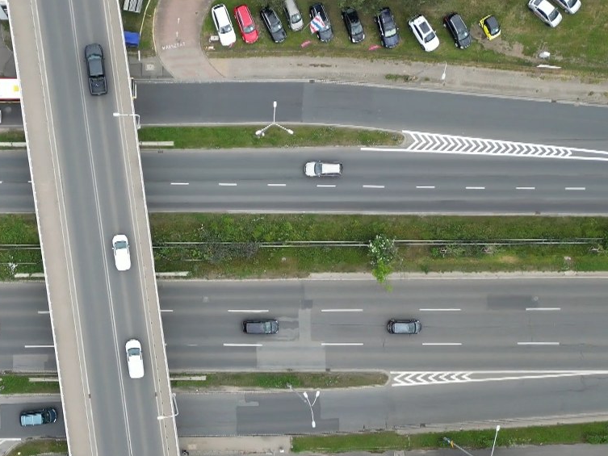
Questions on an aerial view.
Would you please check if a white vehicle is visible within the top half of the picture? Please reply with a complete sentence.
Yes, you'll find a white vehicle within the top half of the picture.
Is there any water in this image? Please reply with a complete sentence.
No, water can't be seen anywhere here.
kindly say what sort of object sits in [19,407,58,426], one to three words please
vehicle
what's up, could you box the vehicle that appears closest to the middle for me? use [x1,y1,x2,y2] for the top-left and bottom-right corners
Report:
[303,159,344,178]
